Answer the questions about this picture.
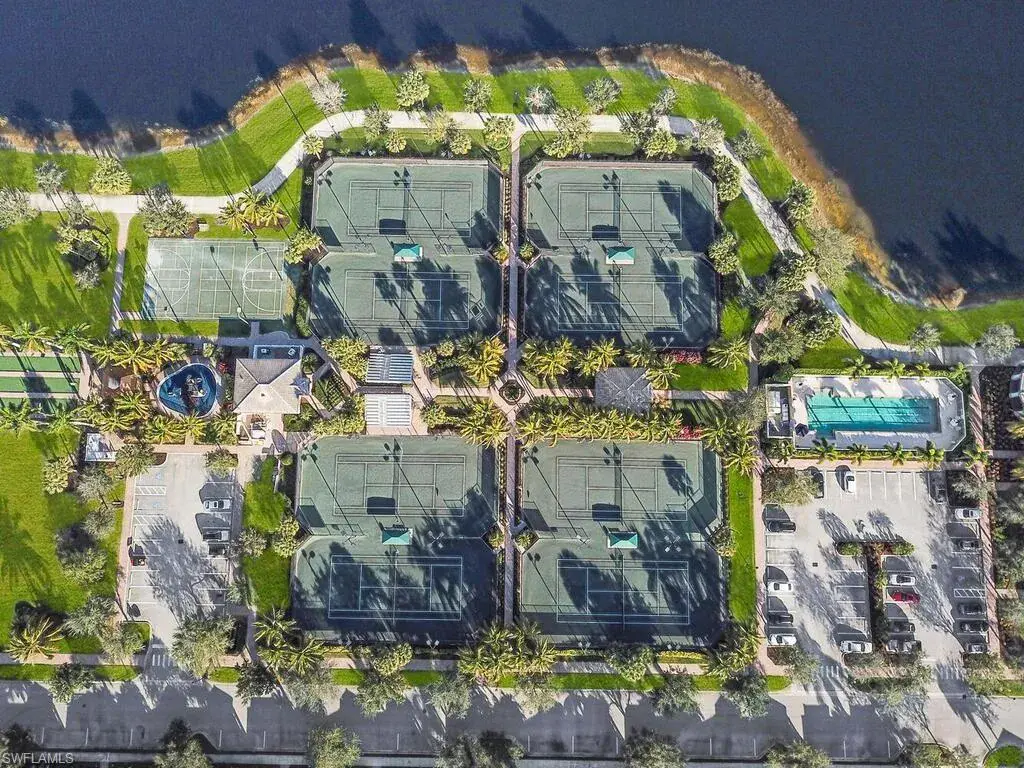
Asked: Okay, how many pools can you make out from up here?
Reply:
2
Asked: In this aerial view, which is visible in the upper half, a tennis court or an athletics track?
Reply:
tennis court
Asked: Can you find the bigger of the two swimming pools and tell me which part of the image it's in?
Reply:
right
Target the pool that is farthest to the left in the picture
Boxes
[156,361,219,418]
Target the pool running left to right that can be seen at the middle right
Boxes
[792,376,966,449]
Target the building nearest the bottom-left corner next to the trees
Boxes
[85,433,124,458]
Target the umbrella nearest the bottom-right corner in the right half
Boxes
[794,423,811,440]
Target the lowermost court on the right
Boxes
[522,535,728,645]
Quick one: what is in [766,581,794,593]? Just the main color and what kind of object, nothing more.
white vehicle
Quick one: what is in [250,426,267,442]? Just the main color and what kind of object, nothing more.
white umbrella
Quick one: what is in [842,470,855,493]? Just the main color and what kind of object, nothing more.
white vehicle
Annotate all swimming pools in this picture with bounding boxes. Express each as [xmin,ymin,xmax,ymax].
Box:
[792,376,966,449]
[156,361,219,418]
